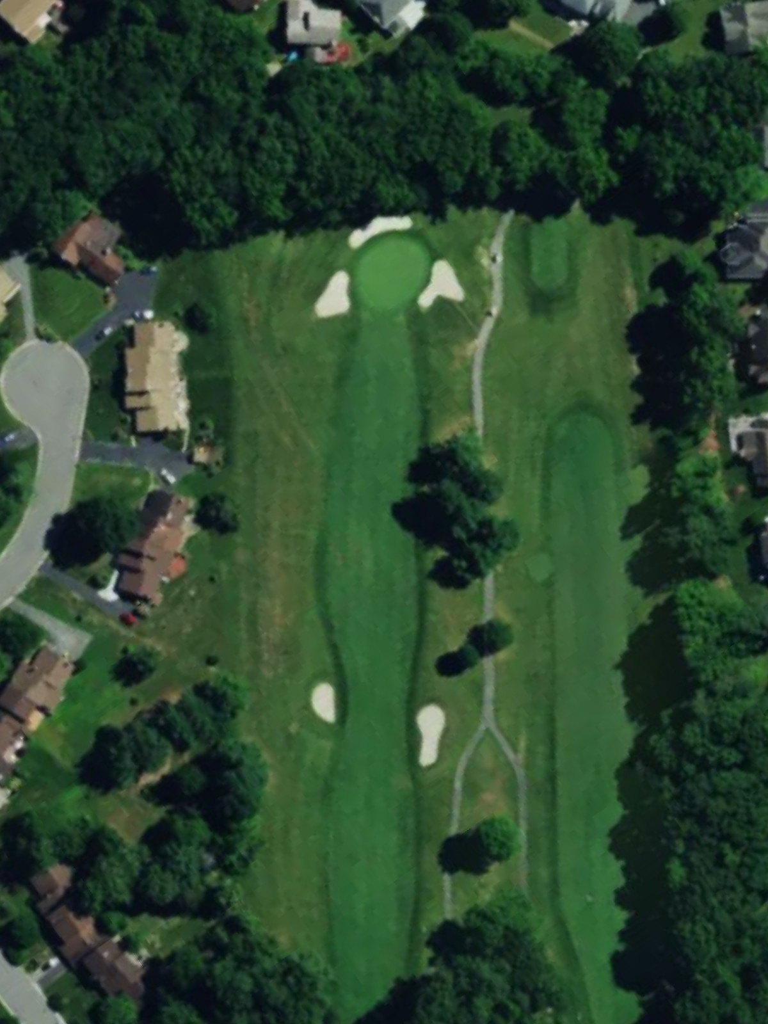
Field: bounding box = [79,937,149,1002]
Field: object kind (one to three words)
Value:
house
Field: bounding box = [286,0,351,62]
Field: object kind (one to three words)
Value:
house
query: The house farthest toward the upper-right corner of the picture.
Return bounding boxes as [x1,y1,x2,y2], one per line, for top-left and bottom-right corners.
[719,2,768,55]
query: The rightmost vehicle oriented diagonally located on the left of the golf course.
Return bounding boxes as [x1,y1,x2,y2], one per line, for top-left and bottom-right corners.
[160,468,175,484]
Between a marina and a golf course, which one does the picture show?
golf course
